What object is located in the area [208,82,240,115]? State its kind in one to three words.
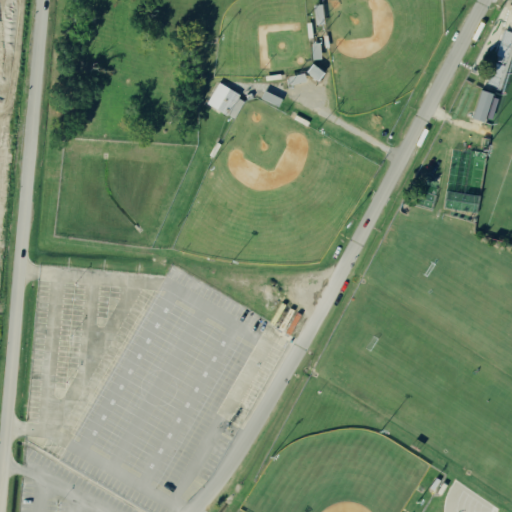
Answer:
building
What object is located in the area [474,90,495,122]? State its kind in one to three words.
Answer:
building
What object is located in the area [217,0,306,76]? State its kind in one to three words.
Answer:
baseball field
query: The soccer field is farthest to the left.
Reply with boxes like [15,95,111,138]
[56,140,196,246]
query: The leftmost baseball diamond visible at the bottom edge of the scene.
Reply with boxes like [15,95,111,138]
[242,430,430,512]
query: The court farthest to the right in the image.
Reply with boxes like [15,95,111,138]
[444,149,488,214]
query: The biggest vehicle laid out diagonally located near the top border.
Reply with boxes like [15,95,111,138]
[472,22,486,42]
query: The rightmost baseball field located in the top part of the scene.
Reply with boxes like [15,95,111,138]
[328,0,442,114]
